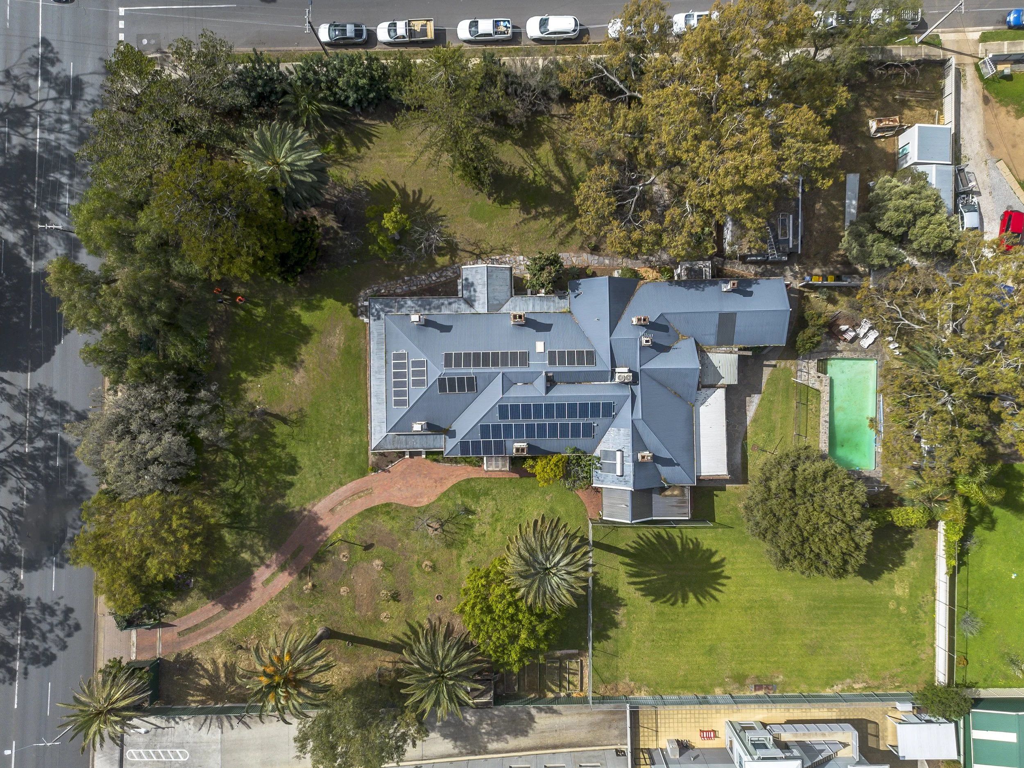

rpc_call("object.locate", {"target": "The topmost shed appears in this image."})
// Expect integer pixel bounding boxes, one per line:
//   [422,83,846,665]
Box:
[898,123,954,172]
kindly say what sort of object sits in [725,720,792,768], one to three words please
house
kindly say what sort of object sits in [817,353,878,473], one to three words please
swimming pool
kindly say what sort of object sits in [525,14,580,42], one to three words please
car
